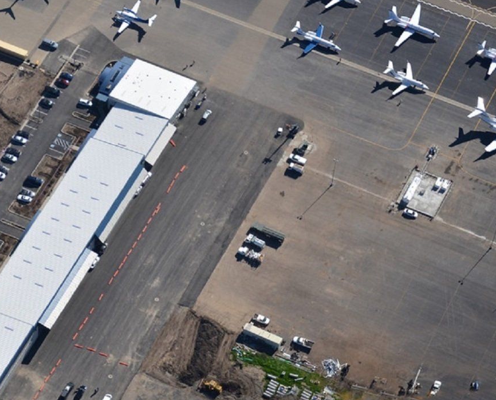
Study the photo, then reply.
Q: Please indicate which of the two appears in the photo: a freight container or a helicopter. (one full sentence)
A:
This aerial view contains a freight container.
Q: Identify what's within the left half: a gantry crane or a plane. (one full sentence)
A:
It is a plane that can be seen within the left half.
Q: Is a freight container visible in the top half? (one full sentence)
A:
No, there's no freight container to be seen in the top half.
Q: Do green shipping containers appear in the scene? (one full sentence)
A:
No, there is no green shipping container in the image.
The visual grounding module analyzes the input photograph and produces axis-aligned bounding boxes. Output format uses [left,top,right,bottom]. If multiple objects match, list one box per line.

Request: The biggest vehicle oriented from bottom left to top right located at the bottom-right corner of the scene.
[427,381,443,396]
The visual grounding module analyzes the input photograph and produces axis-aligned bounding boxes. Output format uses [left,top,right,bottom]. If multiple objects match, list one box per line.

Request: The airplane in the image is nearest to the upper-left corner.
[116,0,159,33]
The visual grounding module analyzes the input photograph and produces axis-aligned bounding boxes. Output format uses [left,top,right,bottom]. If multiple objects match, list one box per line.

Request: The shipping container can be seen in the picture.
[243,324,282,350]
